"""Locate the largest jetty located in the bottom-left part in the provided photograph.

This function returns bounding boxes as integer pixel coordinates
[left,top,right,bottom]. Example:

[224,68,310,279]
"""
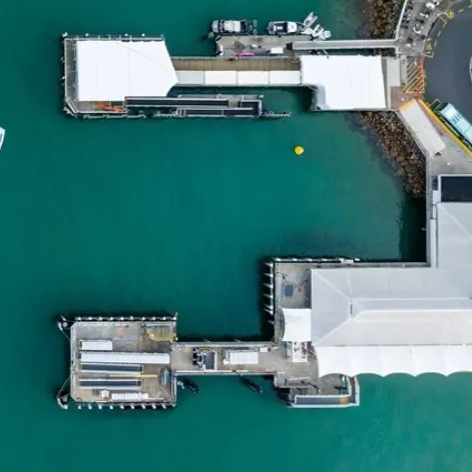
[70,318,178,410]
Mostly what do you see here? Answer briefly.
water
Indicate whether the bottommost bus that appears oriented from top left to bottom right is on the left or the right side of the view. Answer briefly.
right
